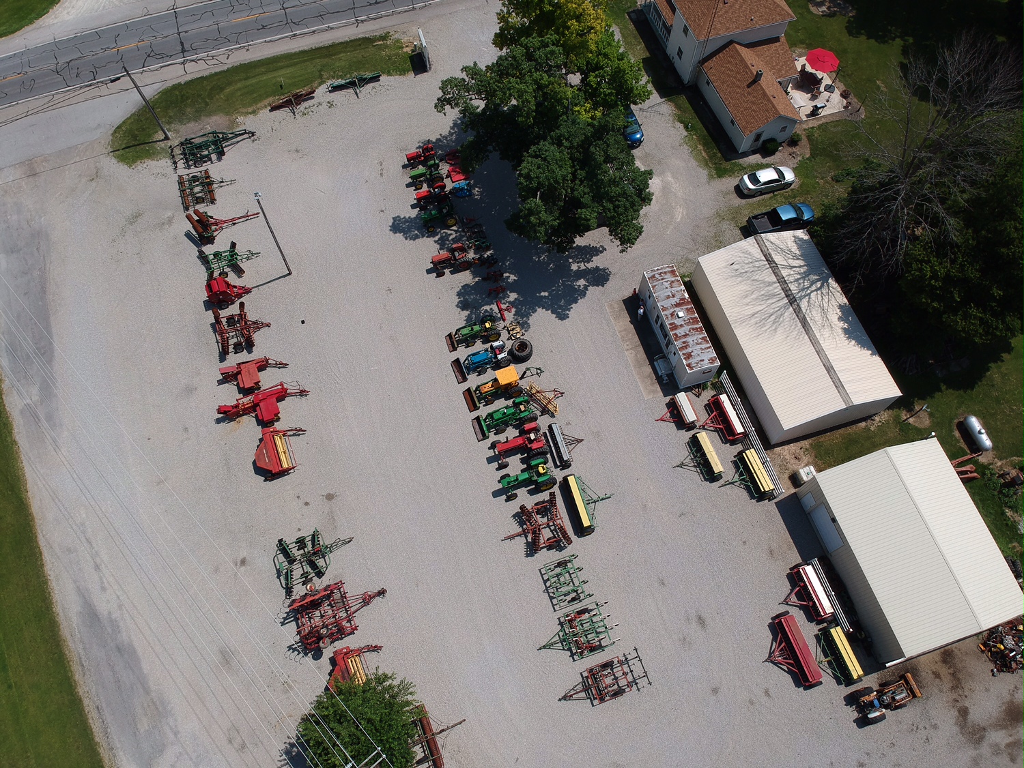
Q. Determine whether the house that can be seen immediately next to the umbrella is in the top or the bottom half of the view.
top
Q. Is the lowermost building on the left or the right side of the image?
right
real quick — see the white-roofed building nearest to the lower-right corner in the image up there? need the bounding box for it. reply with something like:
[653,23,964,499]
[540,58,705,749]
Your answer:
[798,430,1024,662]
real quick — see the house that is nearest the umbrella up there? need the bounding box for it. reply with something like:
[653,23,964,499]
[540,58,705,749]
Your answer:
[618,0,804,155]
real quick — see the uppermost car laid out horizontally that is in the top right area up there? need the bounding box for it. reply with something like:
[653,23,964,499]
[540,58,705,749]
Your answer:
[737,168,798,200]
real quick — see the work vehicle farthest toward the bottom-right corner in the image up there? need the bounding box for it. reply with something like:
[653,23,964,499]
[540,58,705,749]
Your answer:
[850,670,924,726]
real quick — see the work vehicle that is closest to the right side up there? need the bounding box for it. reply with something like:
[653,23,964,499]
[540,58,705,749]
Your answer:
[998,463,1024,496]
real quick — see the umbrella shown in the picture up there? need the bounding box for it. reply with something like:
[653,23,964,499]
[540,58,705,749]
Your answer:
[803,49,841,92]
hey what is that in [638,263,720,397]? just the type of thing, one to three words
trailer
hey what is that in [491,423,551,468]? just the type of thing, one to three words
work vehicle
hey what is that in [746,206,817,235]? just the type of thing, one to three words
truck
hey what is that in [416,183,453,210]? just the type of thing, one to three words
work vehicle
